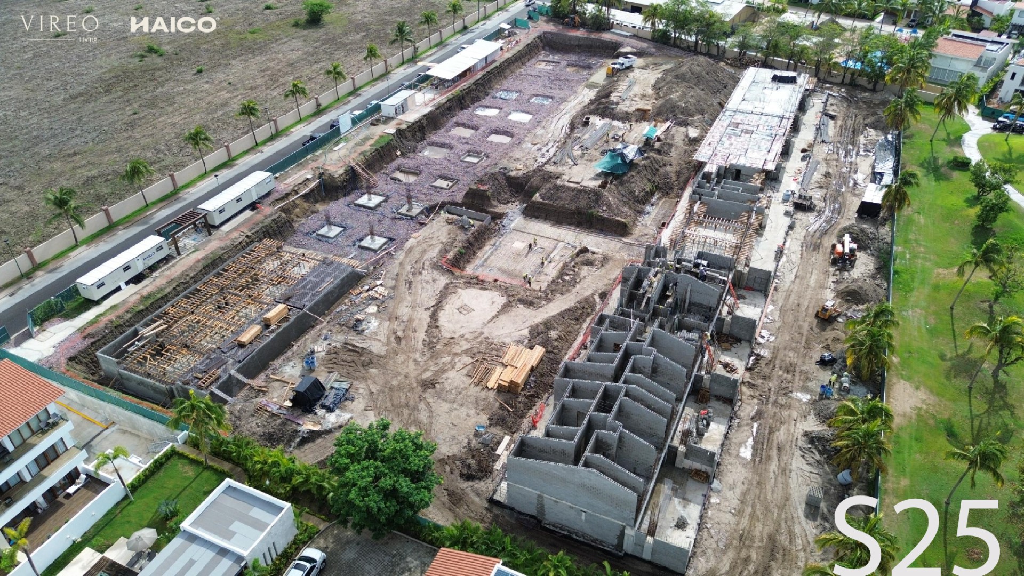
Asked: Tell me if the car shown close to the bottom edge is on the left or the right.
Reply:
left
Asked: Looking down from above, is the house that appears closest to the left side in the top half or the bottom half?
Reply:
bottom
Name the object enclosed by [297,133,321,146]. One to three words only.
vehicle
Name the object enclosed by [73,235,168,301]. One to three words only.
trailer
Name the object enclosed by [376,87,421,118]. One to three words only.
building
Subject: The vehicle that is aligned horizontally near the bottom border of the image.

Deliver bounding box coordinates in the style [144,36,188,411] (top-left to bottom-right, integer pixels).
[275,550,330,576]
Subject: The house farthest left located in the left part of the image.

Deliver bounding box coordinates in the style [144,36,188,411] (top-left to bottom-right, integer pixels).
[0,350,132,576]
